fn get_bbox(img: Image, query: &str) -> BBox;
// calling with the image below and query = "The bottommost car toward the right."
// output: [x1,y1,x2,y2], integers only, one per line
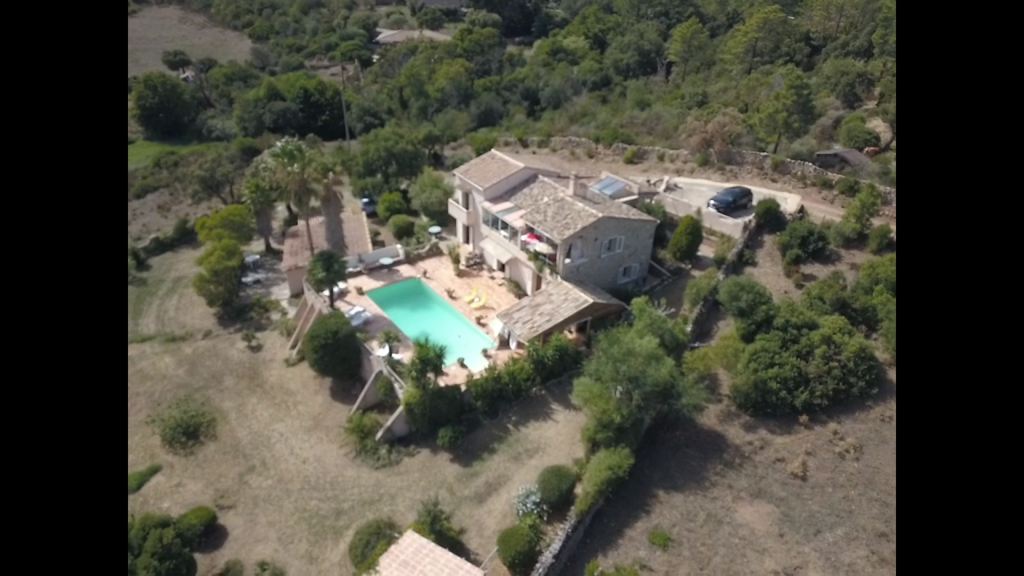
[708,189,758,214]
